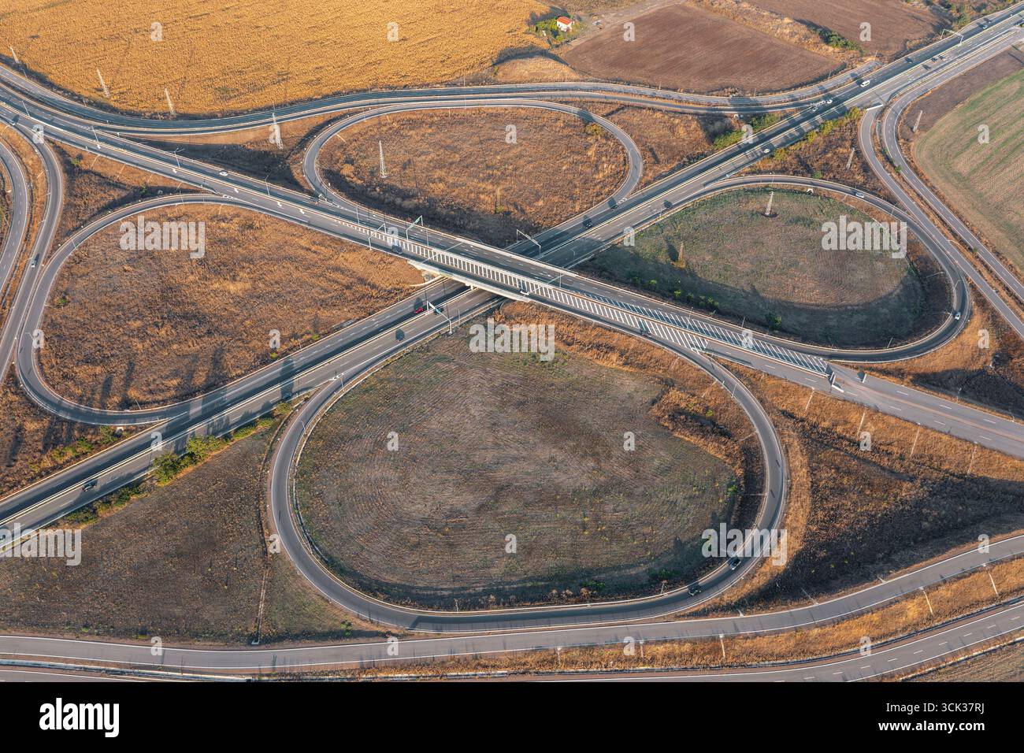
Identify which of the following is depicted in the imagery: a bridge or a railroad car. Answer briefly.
bridge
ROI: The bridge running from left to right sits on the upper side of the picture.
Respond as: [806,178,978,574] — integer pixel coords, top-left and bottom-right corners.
[409,238,577,303]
